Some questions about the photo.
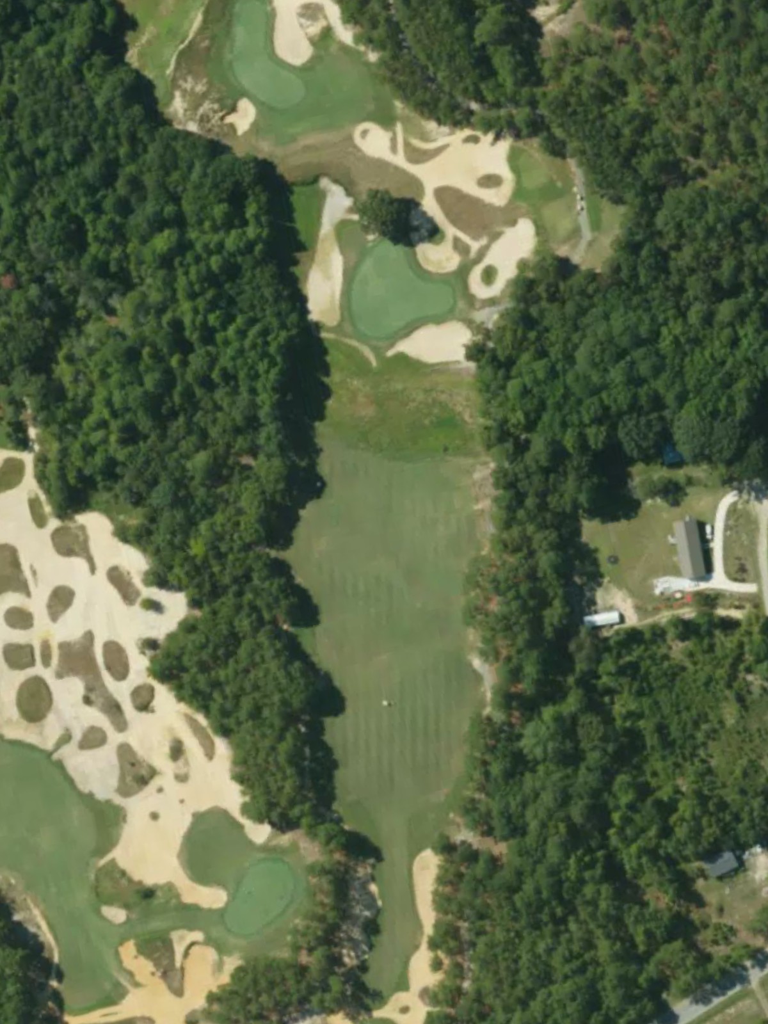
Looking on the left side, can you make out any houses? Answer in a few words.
No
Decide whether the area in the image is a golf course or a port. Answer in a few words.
golf course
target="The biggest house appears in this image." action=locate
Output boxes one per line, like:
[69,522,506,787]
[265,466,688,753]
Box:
[673,518,706,579]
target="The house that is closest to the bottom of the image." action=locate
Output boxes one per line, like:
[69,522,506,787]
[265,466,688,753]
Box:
[708,851,739,879]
